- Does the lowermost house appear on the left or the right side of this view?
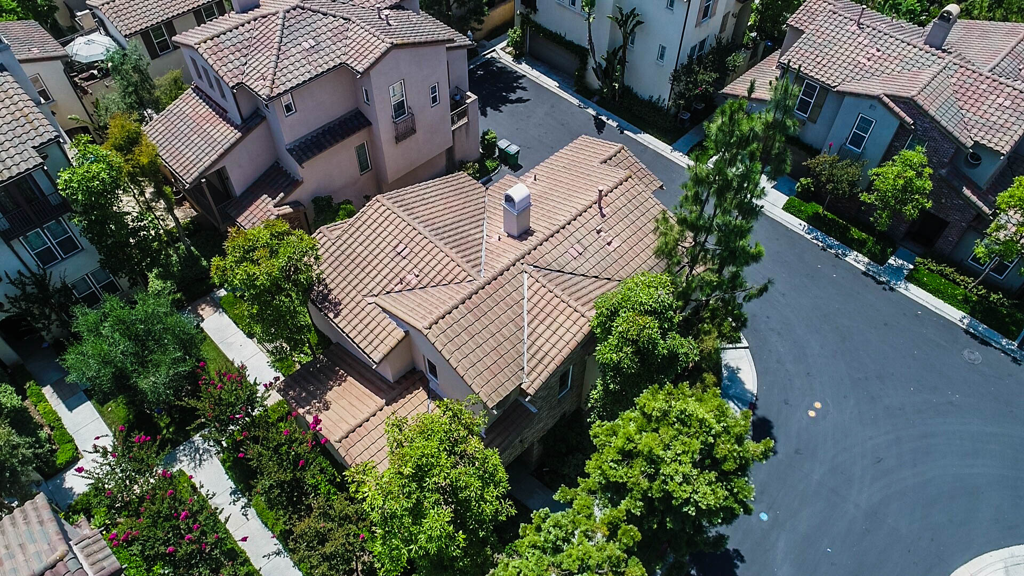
left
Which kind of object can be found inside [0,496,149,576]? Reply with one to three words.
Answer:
house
